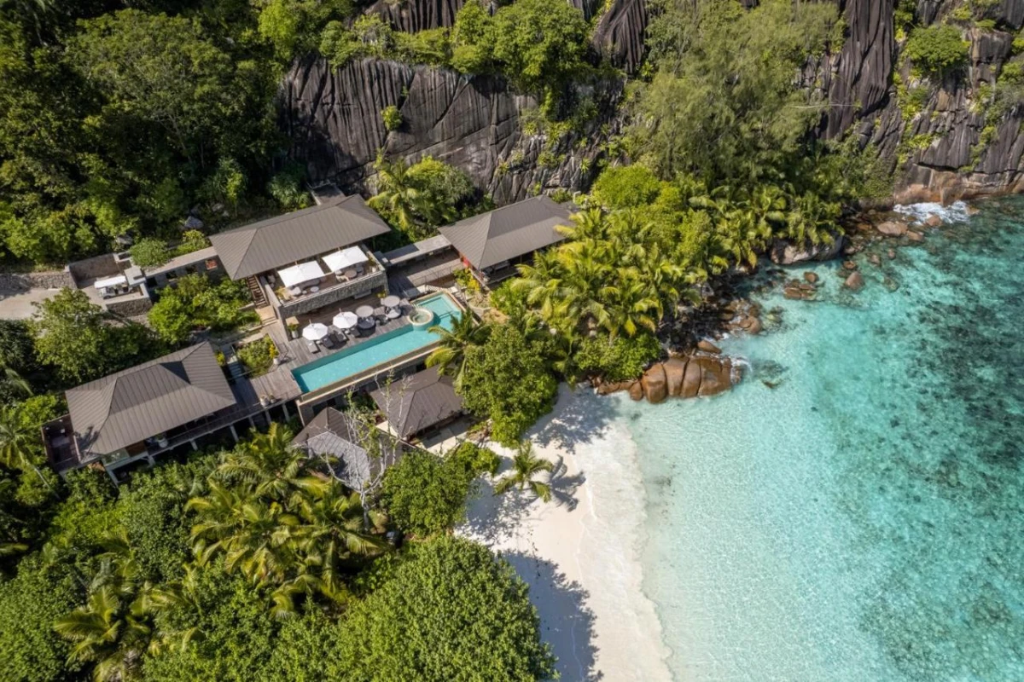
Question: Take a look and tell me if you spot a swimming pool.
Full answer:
Yes, I can see a swimming pool in this picture.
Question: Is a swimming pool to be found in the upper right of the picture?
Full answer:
No, no swimming pool is visible in the upper right of the picture.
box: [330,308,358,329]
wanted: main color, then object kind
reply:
white umbrella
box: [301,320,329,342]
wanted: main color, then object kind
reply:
white umbrella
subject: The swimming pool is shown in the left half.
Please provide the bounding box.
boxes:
[288,292,480,424]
